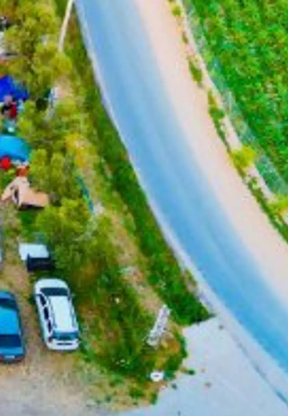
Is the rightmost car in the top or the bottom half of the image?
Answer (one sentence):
You can find the rightmost car in the bottom half.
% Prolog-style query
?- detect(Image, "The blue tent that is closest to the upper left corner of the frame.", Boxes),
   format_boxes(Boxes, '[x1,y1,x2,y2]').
[0,76,28,104]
